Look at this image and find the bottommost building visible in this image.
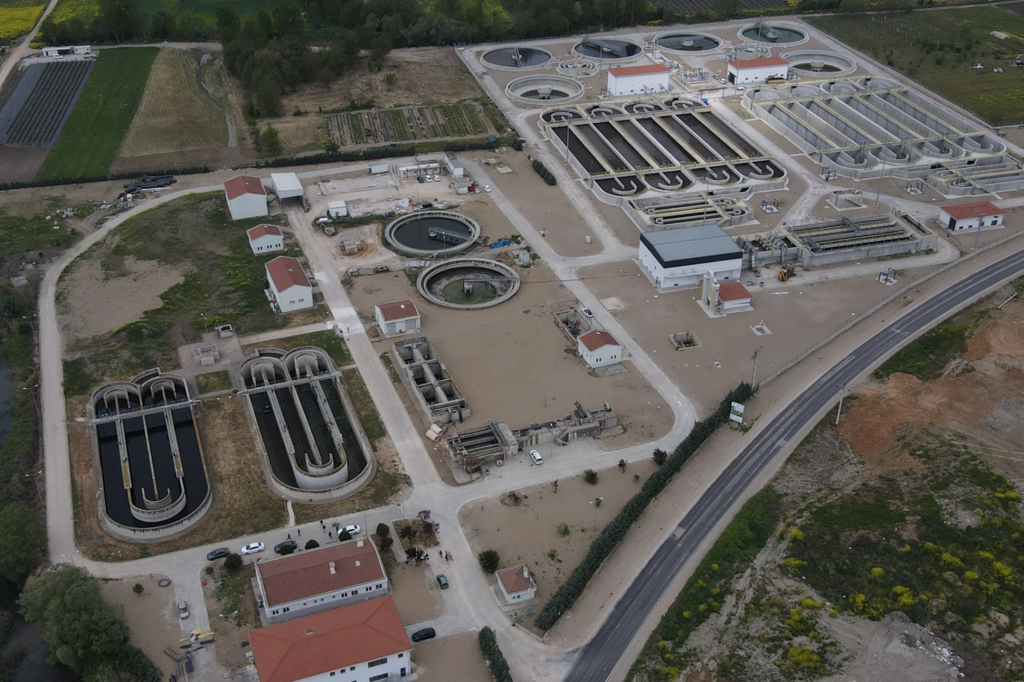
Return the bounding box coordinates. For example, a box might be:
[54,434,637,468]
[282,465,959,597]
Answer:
[249,596,420,682]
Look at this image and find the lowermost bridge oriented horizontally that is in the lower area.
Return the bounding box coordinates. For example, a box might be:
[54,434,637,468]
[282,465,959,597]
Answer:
[85,395,201,429]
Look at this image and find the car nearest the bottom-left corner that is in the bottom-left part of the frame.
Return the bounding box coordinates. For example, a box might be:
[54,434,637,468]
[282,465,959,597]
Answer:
[176,601,189,620]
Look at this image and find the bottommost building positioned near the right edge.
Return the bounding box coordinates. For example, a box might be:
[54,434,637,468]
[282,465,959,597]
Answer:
[934,200,1009,234]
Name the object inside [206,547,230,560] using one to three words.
vehicle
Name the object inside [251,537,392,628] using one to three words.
building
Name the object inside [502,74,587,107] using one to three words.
storage tank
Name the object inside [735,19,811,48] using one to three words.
storage tank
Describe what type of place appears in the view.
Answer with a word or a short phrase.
industrial area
